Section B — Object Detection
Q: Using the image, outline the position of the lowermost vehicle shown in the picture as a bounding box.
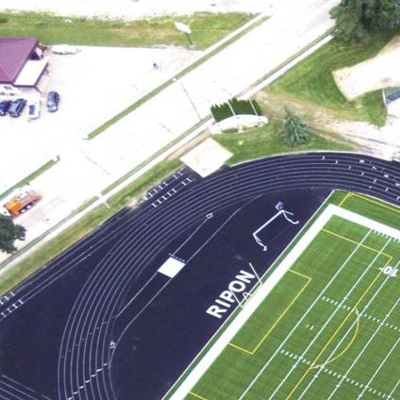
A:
[1,189,48,223]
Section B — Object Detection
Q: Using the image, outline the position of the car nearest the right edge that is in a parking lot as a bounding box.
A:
[46,92,60,110]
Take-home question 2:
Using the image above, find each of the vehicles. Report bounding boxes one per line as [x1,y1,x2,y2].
[10,97,27,117]
[25,98,41,119]
[1,189,48,223]
[46,92,60,110]
[0,98,12,116]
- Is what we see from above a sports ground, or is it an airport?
sports ground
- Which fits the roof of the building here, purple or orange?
purple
